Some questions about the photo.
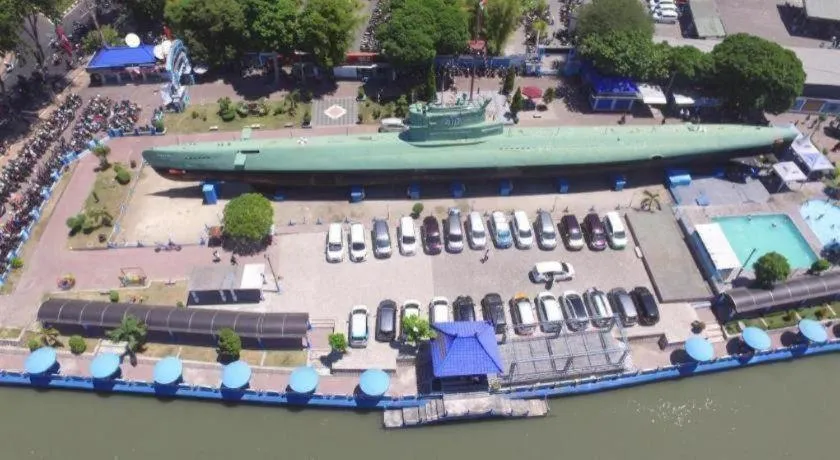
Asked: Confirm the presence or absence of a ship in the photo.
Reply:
Yes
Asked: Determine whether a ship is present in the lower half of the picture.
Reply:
No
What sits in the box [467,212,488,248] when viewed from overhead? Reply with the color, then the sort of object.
white car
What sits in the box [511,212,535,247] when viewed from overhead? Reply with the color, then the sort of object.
white car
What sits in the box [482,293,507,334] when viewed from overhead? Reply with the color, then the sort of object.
gray car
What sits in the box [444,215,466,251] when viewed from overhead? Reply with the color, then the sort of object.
gray car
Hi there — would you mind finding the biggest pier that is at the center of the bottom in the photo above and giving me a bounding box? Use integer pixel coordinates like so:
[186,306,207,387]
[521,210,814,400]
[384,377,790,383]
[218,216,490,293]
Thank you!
[384,394,550,430]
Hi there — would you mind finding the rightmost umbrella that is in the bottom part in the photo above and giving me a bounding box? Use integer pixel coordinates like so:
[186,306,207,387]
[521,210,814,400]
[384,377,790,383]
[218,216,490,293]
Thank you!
[794,319,827,347]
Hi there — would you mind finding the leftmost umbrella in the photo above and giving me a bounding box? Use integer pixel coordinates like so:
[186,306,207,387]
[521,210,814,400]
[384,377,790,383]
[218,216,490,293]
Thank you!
[28,348,61,377]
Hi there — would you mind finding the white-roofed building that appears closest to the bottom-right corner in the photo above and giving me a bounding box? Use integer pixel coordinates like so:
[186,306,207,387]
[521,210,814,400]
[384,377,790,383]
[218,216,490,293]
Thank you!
[690,222,745,284]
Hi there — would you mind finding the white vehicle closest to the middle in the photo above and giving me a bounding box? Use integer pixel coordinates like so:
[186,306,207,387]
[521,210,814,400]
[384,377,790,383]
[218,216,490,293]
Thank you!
[398,218,418,255]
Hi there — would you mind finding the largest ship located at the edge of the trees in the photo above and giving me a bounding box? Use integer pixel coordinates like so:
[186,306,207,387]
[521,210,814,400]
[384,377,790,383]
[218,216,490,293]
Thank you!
[144,67,796,189]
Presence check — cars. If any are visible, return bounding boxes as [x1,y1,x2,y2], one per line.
[629,288,661,327]
[655,2,676,13]
[372,221,392,257]
[400,303,422,337]
[602,212,628,247]
[428,298,450,324]
[444,215,466,251]
[511,212,535,247]
[537,294,564,333]
[347,224,368,261]
[580,214,607,250]
[374,302,397,344]
[482,293,507,334]
[451,294,475,322]
[347,310,369,345]
[489,212,512,248]
[422,218,443,254]
[533,212,559,248]
[562,292,590,332]
[608,289,637,328]
[559,215,585,251]
[583,289,614,330]
[398,218,418,255]
[662,11,678,25]
[530,262,573,289]
[467,212,488,248]
[324,224,345,261]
